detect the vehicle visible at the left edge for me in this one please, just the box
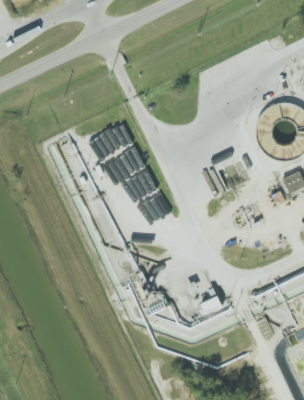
[6,24,46,46]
